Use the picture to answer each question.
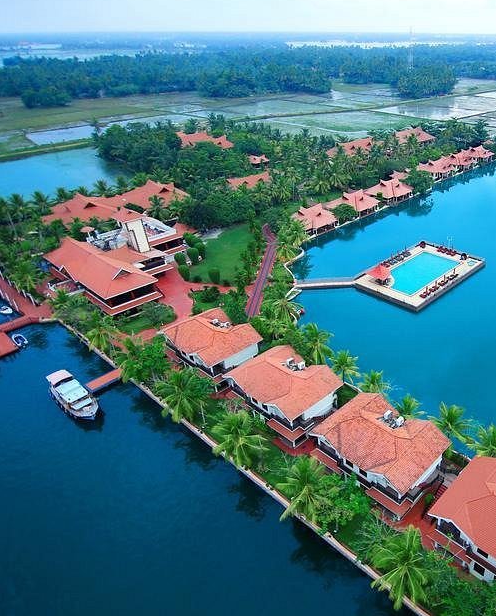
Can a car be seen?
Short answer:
No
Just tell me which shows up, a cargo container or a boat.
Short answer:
boat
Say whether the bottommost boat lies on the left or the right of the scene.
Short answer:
left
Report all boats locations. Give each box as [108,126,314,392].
[8,333,24,343]
[0,307,14,314]
[43,369,100,421]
